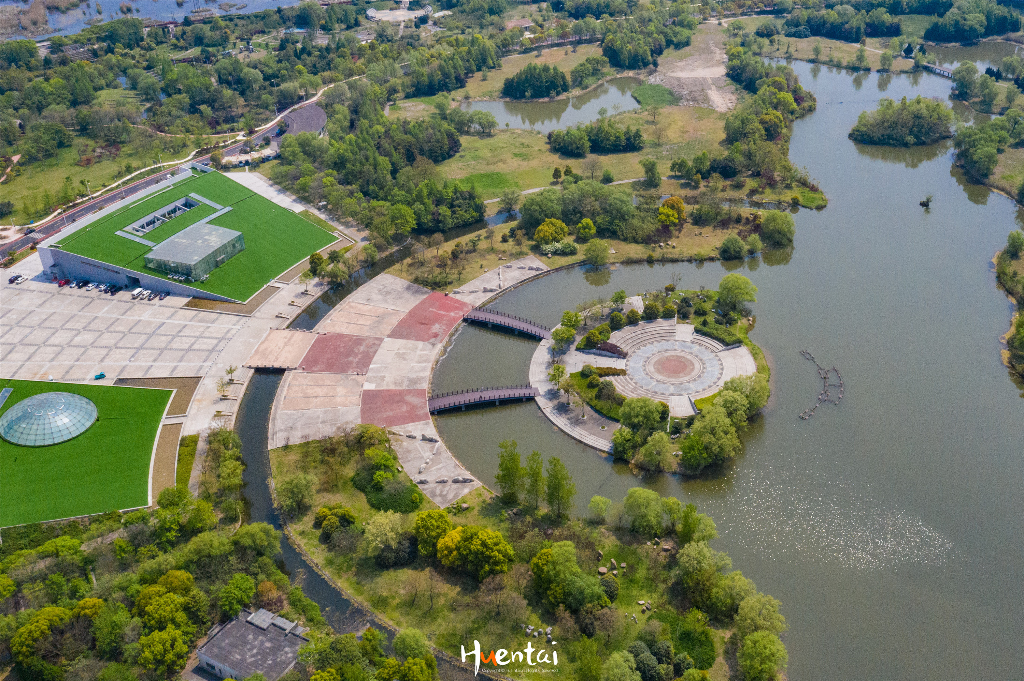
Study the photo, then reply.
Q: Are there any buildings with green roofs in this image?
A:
Yes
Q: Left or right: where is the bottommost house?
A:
left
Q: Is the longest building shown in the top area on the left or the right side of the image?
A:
left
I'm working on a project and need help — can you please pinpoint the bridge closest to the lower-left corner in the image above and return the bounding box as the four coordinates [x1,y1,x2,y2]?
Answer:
[240,325,327,369]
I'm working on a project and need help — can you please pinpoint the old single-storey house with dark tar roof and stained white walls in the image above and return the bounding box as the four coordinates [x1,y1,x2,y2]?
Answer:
[196,609,310,681]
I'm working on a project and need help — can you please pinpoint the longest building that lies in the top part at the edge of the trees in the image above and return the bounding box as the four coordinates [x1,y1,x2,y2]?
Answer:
[24,159,345,306]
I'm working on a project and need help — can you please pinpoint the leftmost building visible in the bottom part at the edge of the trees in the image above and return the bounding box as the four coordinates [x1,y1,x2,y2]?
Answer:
[0,378,179,533]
